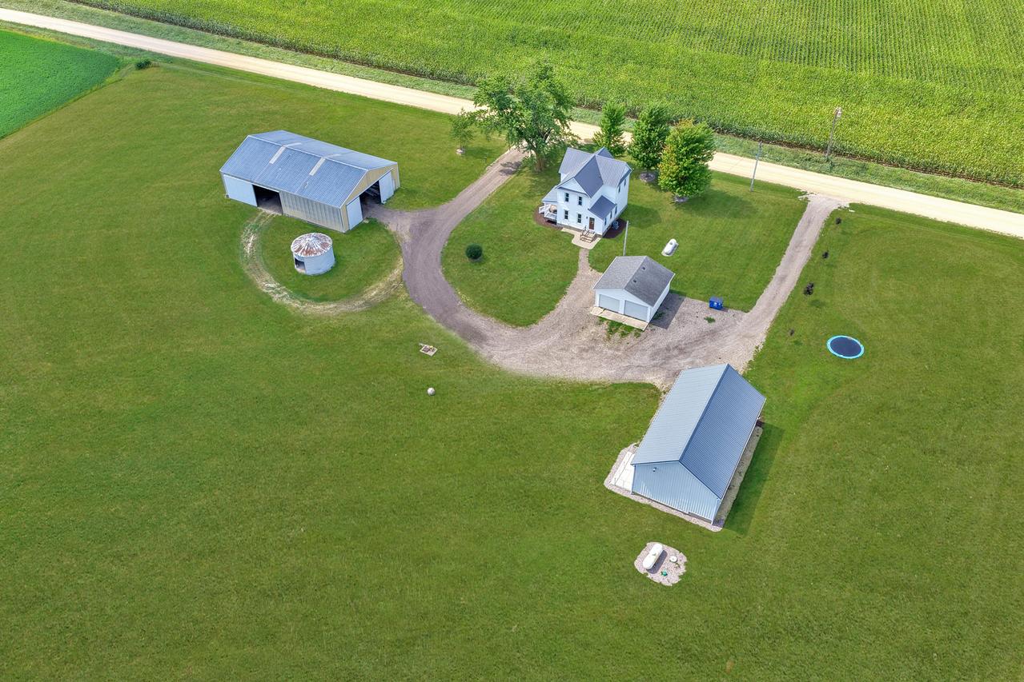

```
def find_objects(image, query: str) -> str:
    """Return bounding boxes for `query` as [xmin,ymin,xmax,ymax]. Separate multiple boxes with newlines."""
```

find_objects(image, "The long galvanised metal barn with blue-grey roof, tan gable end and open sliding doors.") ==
[219,129,400,233]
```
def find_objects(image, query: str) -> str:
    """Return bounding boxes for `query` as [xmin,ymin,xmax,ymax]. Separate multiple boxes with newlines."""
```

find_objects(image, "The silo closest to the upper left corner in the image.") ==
[291,233,337,275]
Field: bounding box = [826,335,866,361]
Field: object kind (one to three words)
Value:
trampoline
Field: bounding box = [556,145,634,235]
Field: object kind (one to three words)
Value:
house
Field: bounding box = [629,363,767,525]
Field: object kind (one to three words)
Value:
shed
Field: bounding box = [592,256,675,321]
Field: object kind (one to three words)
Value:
building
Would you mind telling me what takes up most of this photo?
grass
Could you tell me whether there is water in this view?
No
